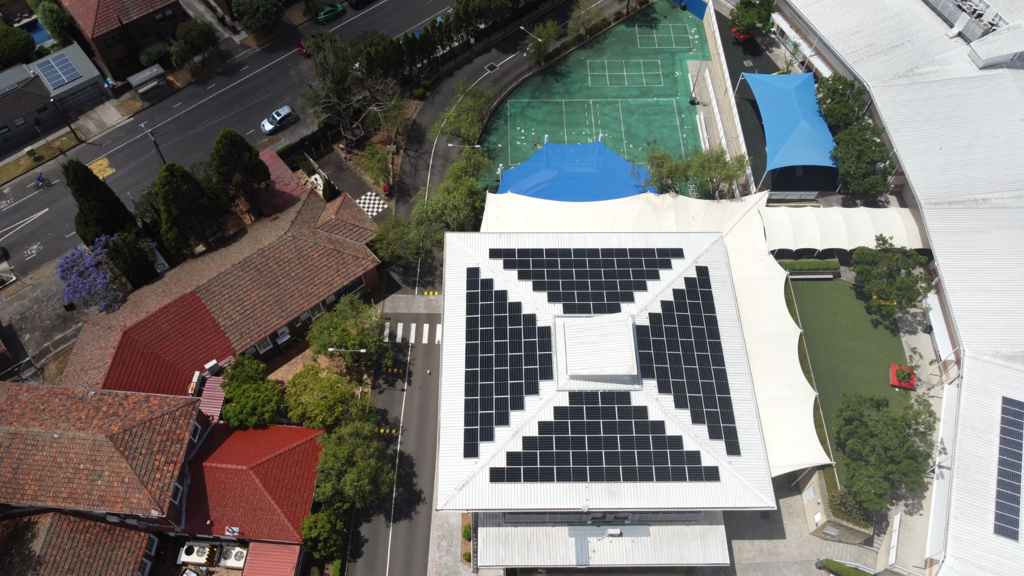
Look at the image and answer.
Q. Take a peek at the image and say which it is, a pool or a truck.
pool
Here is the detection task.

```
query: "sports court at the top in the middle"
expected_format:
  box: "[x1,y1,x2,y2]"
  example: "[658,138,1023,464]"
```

[470,0,712,207]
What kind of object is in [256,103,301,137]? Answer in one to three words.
car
